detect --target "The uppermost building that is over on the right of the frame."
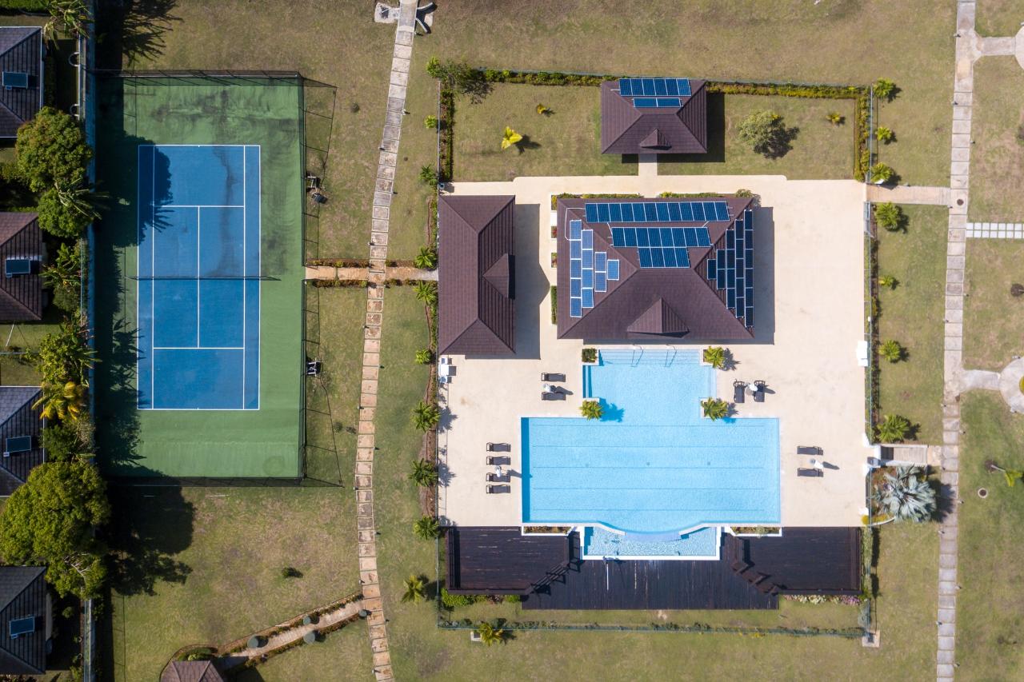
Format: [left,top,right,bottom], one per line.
[601,78,707,154]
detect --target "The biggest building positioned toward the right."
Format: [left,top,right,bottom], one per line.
[557,197,755,339]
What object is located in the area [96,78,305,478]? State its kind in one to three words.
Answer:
tennis court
